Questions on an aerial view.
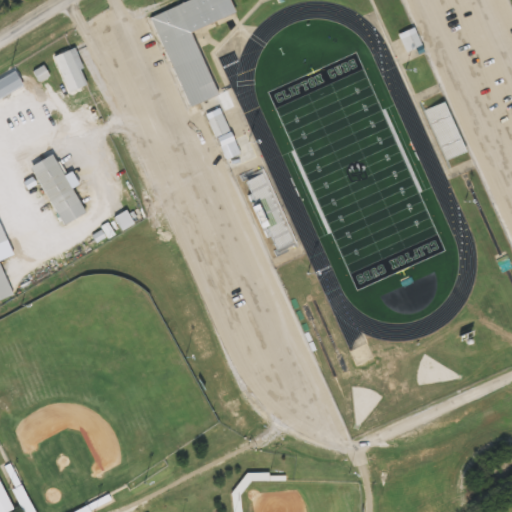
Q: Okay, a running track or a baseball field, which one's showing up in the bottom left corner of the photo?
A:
baseball field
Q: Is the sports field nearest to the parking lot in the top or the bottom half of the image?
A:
top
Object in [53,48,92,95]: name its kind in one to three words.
barn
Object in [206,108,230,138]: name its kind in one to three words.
building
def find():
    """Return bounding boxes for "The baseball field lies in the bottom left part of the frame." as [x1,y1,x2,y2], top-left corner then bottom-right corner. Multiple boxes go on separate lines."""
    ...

[0,272,220,512]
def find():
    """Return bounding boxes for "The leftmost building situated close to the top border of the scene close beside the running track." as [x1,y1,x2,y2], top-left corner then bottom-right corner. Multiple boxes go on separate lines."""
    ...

[150,0,236,106]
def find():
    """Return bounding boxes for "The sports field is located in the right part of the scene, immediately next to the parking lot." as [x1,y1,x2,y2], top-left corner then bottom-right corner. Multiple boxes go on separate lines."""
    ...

[254,18,460,324]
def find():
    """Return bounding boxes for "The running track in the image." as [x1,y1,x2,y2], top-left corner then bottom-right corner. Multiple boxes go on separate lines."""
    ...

[219,0,478,348]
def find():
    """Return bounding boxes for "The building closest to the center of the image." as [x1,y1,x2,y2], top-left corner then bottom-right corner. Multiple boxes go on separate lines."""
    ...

[218,132,240,164]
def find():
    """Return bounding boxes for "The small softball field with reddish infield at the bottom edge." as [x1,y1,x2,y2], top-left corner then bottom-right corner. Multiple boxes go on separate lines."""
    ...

[244,482,362,512]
